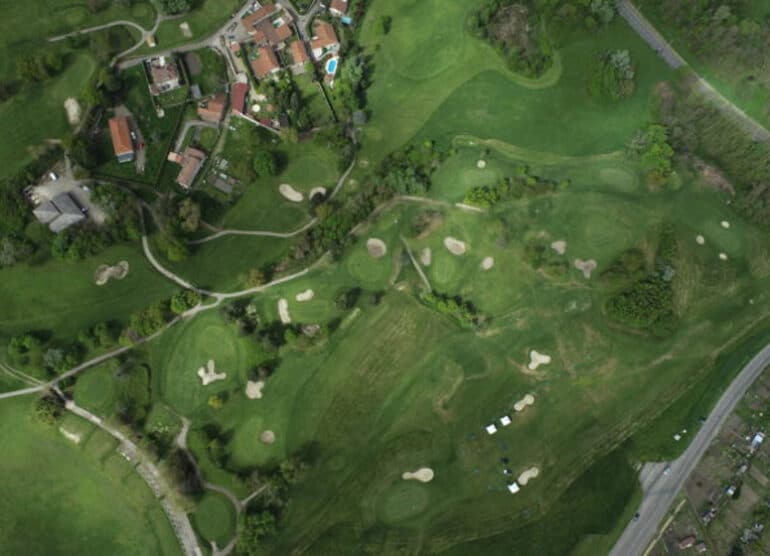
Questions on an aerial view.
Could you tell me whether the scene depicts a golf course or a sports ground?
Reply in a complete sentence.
The picture captures a golf course.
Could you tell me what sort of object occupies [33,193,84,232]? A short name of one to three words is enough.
building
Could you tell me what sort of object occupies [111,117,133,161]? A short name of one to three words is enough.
house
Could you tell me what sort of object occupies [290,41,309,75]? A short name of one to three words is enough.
house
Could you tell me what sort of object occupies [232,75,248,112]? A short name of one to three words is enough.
barn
